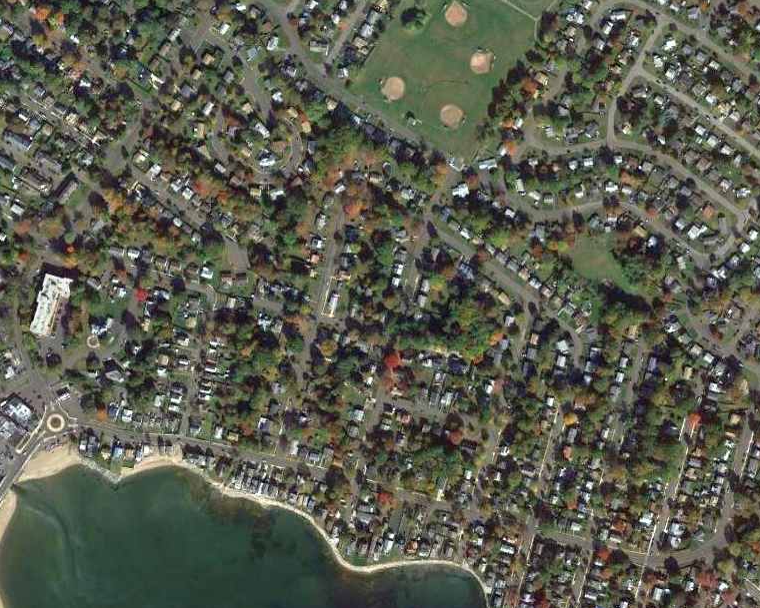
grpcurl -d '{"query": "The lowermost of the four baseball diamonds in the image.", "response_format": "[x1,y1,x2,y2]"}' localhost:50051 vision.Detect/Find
[420,88,471,132]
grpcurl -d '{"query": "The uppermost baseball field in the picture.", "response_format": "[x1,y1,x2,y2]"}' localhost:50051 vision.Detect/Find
[429,0,485,38]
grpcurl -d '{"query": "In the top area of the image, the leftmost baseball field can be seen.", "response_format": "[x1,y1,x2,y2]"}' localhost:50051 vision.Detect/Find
[378,57,421,110]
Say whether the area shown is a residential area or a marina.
residential area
